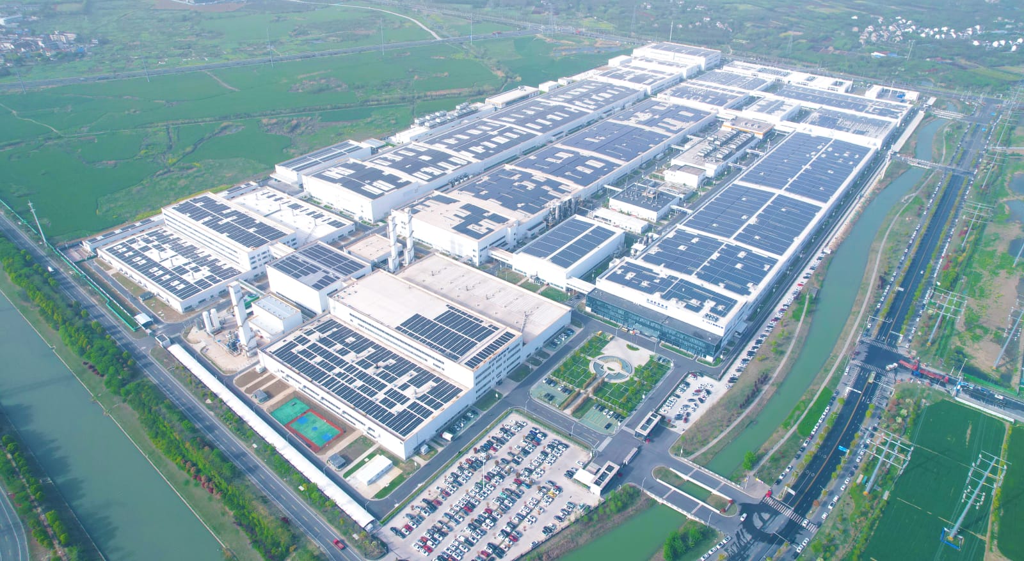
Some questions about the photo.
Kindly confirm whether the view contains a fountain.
Yes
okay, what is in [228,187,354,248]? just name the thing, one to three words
building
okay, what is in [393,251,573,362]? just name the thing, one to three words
building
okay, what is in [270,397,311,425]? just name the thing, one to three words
sports court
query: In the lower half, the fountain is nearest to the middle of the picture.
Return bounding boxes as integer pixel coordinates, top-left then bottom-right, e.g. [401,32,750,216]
[590,354,634,382]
